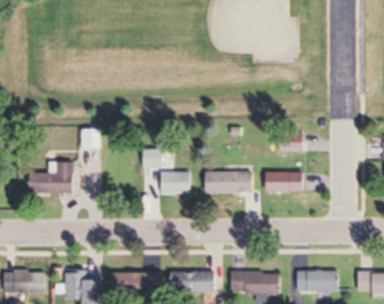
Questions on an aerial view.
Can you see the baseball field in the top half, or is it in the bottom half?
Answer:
top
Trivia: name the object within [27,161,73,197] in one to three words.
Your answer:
house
